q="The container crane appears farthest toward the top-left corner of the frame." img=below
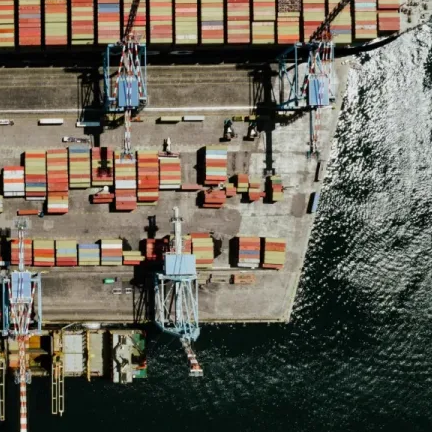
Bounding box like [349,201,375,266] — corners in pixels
[104,0,147,155]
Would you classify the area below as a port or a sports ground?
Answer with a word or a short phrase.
port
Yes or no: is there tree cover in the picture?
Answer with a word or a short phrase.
No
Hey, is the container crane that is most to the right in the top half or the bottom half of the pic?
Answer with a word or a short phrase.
top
